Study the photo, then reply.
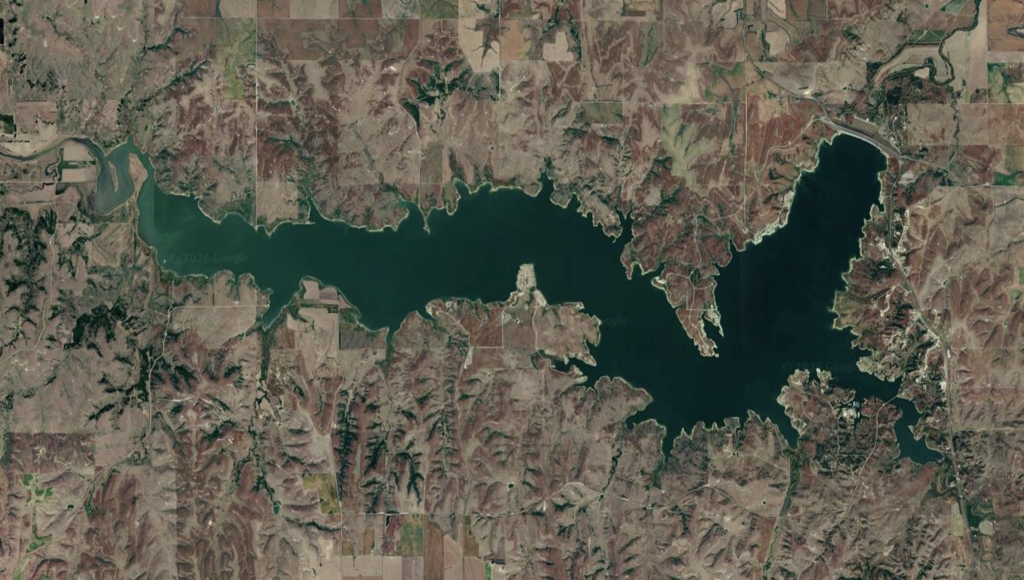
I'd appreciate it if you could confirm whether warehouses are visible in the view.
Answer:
No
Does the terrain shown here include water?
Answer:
Yes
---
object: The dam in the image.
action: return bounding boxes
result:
[827,113,902,157]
